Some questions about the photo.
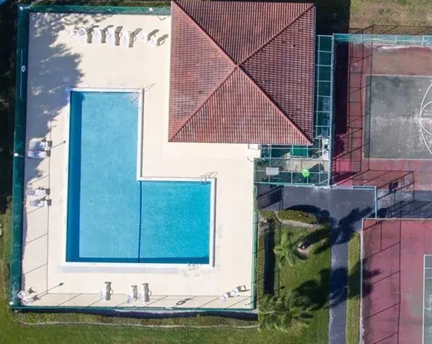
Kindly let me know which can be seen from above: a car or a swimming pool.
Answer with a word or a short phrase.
swimming pool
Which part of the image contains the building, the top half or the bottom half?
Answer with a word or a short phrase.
top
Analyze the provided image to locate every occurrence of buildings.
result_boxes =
[168,0,316,146]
